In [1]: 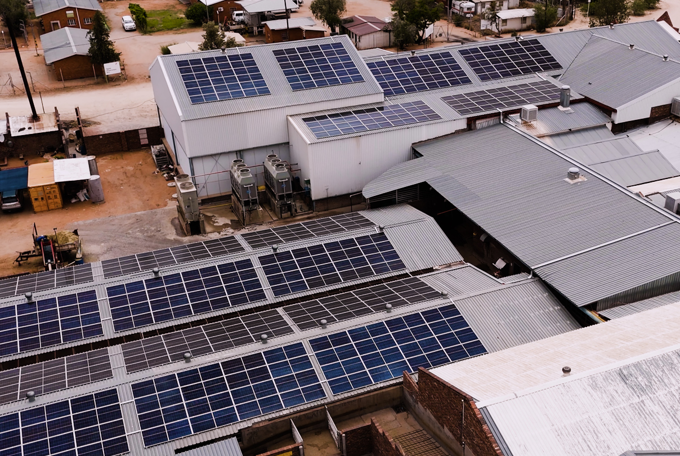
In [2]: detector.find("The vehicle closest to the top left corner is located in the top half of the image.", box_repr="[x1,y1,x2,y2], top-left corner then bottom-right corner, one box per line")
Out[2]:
[118,19,133,32]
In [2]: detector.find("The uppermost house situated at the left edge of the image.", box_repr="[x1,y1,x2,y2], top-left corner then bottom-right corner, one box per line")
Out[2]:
[34,0,98,33]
